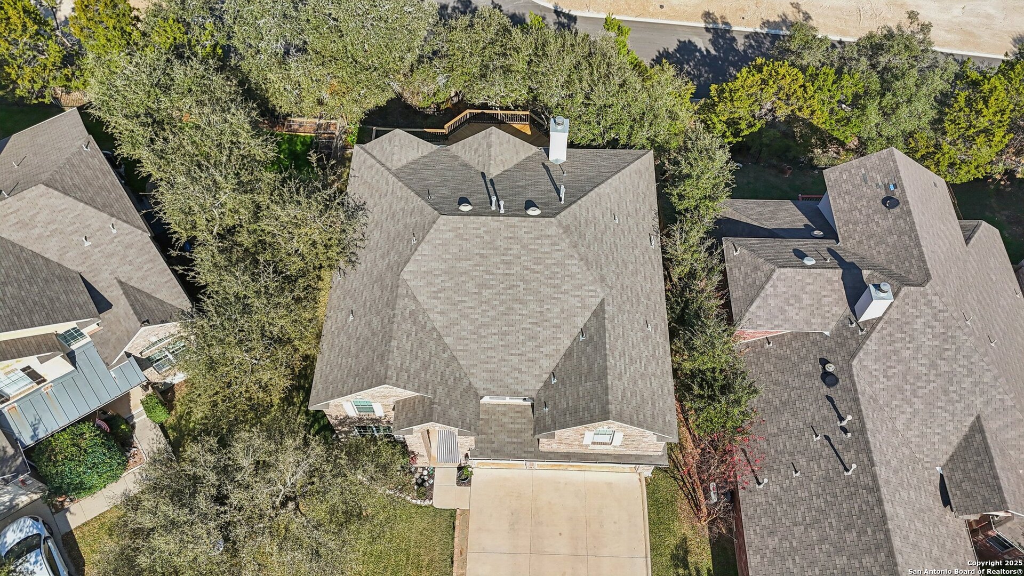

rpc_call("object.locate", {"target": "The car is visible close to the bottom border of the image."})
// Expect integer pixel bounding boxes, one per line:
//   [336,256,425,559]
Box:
[5,514,79,576]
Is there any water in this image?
No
